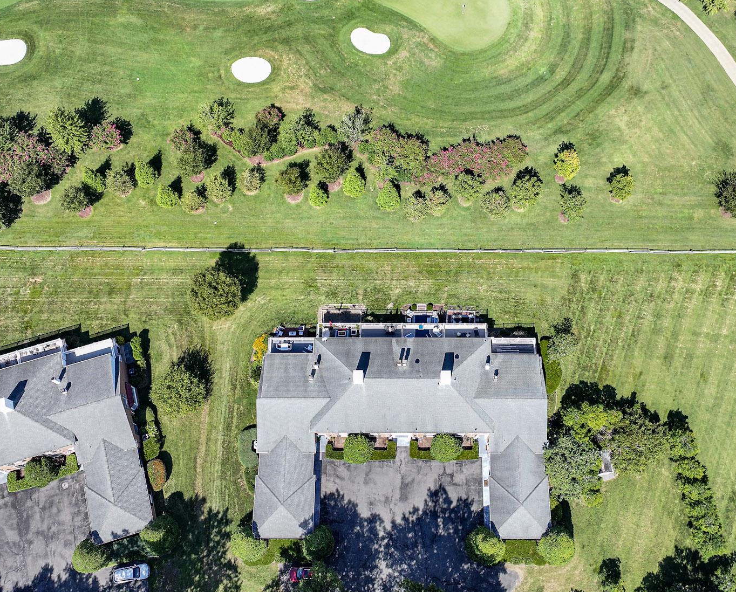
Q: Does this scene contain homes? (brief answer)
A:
Yes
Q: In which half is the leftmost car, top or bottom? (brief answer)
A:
bottom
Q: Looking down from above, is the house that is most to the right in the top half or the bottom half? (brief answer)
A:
bottom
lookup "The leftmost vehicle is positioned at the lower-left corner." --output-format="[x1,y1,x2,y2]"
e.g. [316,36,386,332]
[110,563,150,584]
